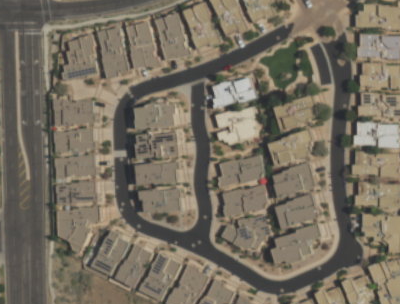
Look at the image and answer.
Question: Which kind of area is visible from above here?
residential area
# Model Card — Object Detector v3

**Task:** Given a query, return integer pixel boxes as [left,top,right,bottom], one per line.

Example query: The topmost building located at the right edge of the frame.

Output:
[356,4,400,30]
